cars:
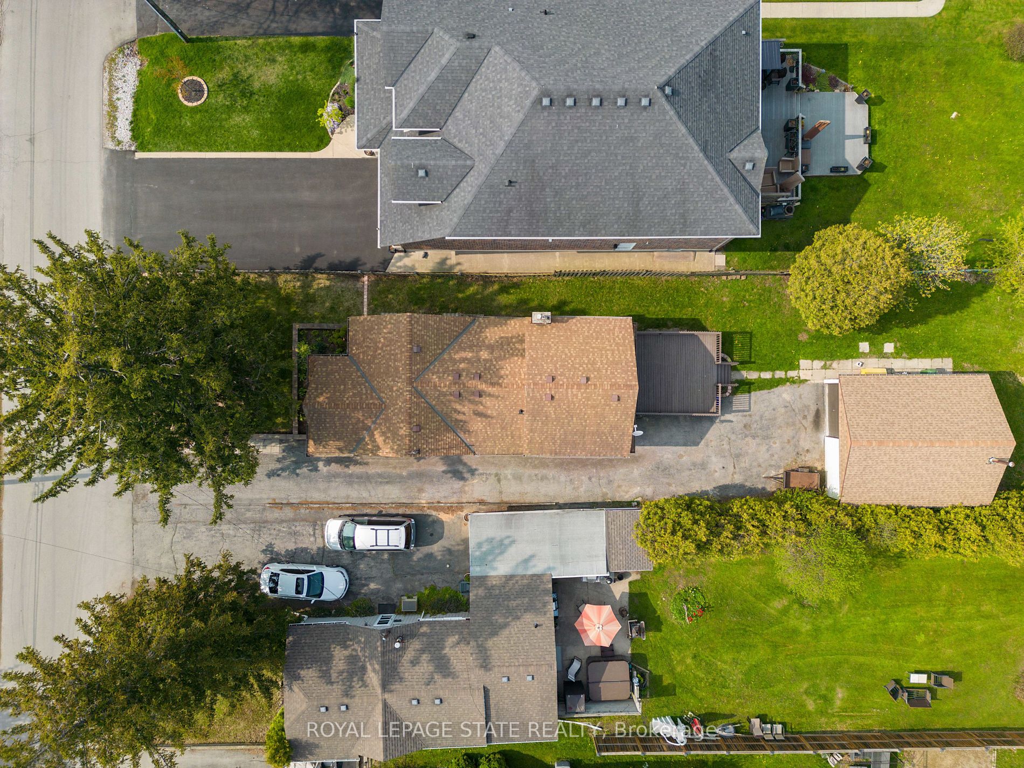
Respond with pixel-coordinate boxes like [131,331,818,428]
[327,511,419,557]
[260,560,350,605]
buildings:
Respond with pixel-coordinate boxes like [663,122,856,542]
[353,0,770,256]
[598,506,653,572]
[300,312,644,459]
[283,574,558,768]
[820,374,1019,505]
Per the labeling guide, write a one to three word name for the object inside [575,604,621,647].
umbrella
